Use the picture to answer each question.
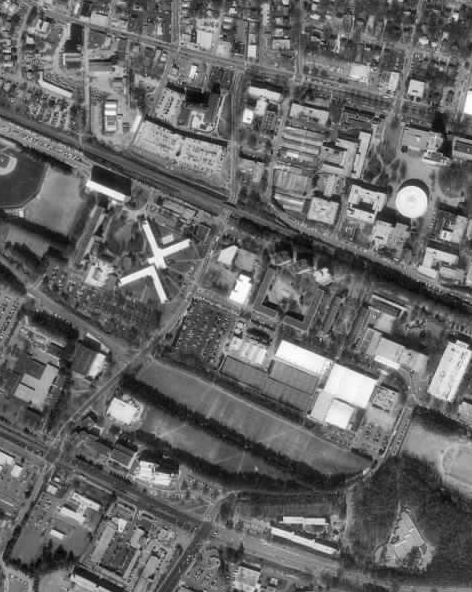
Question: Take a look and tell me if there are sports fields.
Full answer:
Yes, a sports field appears in the view.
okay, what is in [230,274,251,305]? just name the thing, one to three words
building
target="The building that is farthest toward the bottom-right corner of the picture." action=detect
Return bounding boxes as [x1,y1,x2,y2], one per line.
[389,512,425,559]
